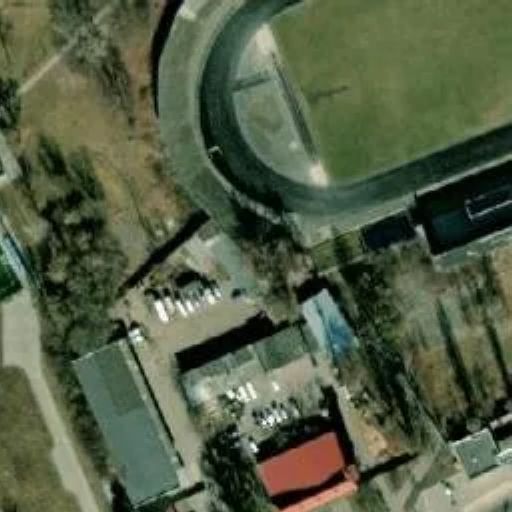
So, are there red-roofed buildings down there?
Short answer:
Yes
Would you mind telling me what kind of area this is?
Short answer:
sports ground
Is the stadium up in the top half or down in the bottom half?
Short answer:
top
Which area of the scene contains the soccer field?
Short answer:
top right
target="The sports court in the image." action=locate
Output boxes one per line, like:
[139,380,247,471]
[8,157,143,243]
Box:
[0,252,20,300]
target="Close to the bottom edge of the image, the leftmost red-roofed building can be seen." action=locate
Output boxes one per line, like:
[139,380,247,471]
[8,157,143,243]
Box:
[257,432,358,512]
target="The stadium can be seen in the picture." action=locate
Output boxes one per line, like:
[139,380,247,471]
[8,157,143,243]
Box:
[157,0,512,268]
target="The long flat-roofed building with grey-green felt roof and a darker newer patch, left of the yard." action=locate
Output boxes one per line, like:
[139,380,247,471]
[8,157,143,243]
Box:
[72,338,188,508]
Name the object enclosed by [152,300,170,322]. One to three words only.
vehicle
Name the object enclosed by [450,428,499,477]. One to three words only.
building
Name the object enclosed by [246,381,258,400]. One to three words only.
vehicle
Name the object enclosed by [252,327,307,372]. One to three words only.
building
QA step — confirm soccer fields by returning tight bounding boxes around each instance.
[232,0,512,188]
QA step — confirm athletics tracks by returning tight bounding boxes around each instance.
[197,0,512,219]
